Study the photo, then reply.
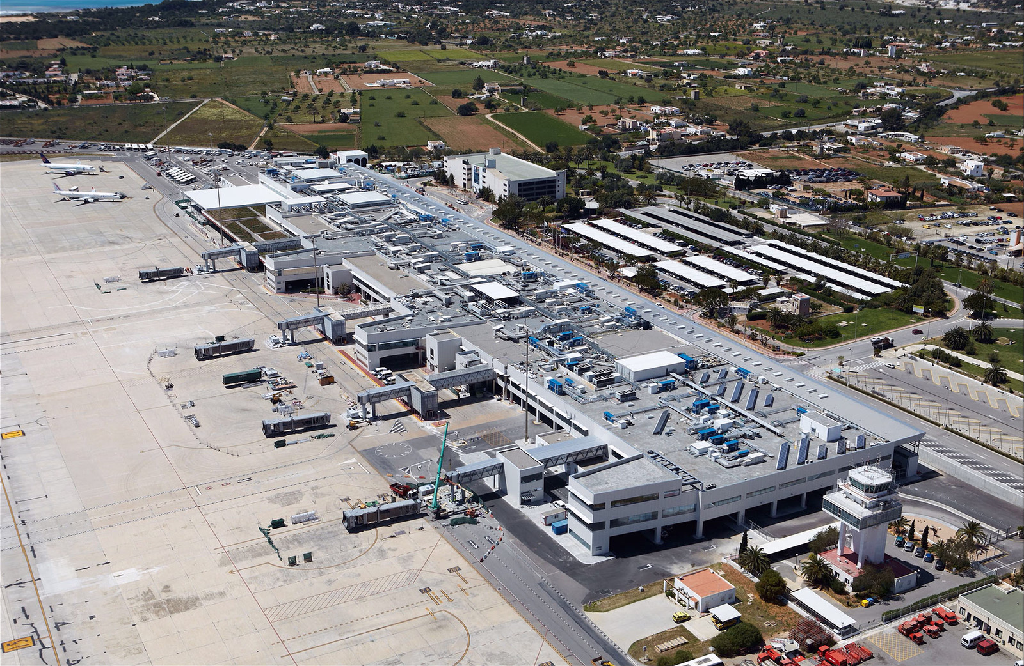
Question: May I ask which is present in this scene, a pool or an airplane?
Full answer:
It is an airplane that can be seen here.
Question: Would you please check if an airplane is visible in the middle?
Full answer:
No, I can find no airplane in the middle.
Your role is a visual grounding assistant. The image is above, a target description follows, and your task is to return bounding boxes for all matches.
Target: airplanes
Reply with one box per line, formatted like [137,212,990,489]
[34,148,99,174]
[48,174,118,204]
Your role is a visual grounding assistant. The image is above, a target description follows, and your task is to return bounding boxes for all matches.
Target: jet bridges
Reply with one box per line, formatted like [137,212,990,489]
[269,300,391,349]
[441,442,622,517]
[192,336,256,360]
[260,408,332,436]
[137,263,185,280]
[350,365,498,429]
[195,237,303,276]
[340,495,423,532]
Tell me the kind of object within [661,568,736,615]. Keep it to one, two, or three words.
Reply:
house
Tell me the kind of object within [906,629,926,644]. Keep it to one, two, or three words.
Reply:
work vehicle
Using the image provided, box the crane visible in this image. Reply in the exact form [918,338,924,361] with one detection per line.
[416,421,460,527]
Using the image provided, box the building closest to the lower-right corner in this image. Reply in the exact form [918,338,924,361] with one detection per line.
[956,574,1024,655]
